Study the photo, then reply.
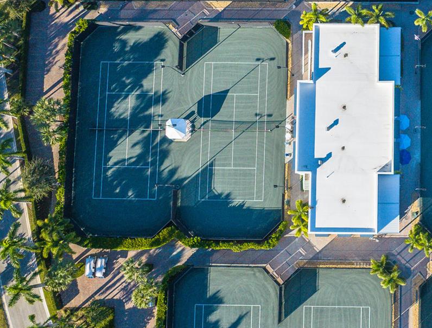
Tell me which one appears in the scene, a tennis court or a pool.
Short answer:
tennis court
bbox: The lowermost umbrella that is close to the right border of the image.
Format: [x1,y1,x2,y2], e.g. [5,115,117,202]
[396,149,414,165]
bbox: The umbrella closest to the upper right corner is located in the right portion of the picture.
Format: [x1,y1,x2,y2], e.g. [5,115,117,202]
[395,114,412,130]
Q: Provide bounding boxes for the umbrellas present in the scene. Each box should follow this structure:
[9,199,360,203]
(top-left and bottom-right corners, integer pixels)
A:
[395,114,412,130]
[396,149,414,165]
[396,133,412,149]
